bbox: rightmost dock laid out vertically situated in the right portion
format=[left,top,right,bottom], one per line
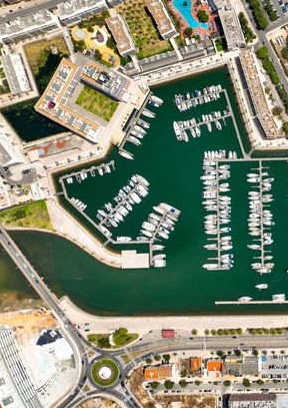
[250,160,273,268]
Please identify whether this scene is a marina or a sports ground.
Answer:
marina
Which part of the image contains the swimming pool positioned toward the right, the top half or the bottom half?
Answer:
top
